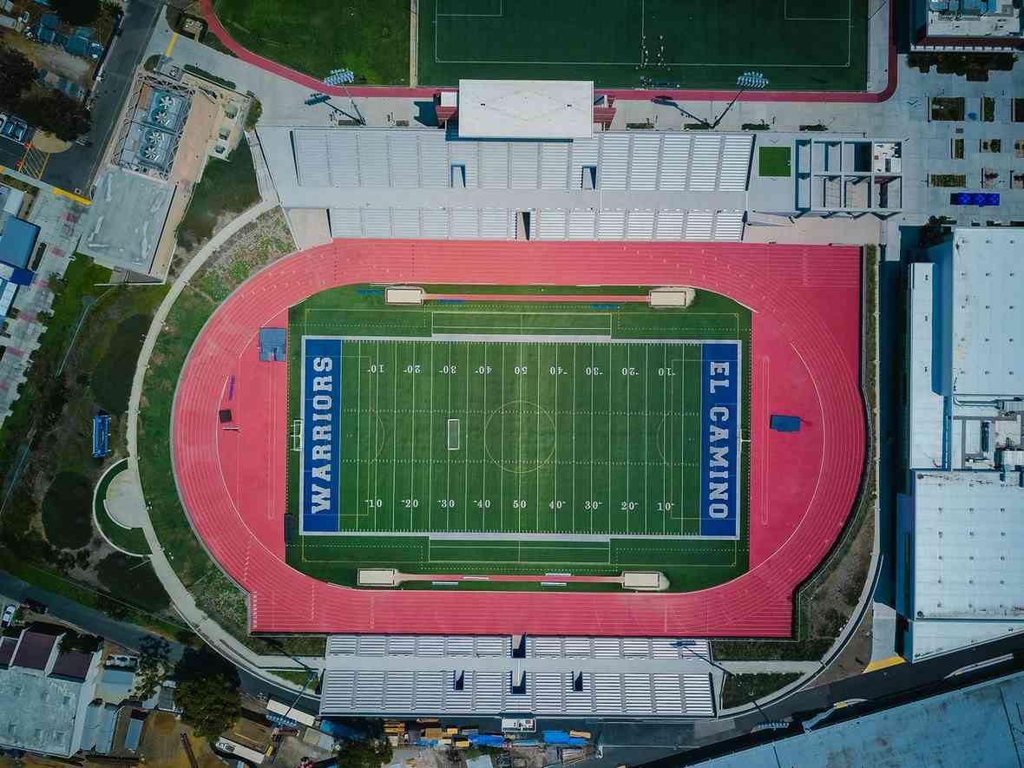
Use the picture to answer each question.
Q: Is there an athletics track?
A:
Yes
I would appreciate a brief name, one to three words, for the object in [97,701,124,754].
shed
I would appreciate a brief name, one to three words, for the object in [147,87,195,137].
cooling tower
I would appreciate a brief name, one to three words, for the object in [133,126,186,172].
cooling tower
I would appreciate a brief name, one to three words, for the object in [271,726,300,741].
vehicle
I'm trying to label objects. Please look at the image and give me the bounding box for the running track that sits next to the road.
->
[168,238,869,639]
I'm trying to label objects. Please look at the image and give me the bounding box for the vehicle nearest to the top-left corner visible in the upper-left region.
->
[17,6,32,25]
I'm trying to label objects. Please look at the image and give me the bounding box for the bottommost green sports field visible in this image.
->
[288,284,753,592]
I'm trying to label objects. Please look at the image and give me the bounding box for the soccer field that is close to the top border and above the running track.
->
[418,0,867,91]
